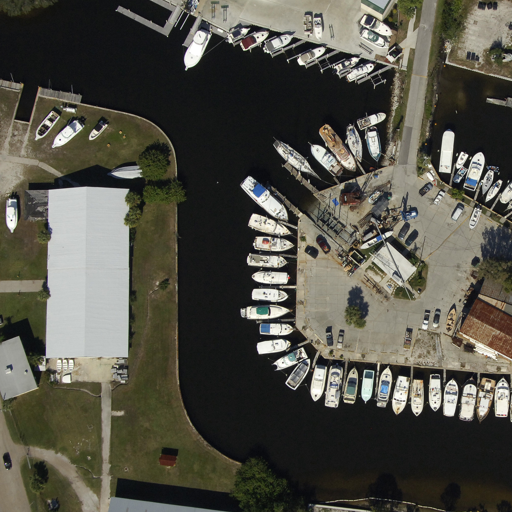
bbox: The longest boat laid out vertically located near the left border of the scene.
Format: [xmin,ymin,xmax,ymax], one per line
[6,195,19,234]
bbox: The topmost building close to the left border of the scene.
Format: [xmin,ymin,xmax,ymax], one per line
[24,187,131,358]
